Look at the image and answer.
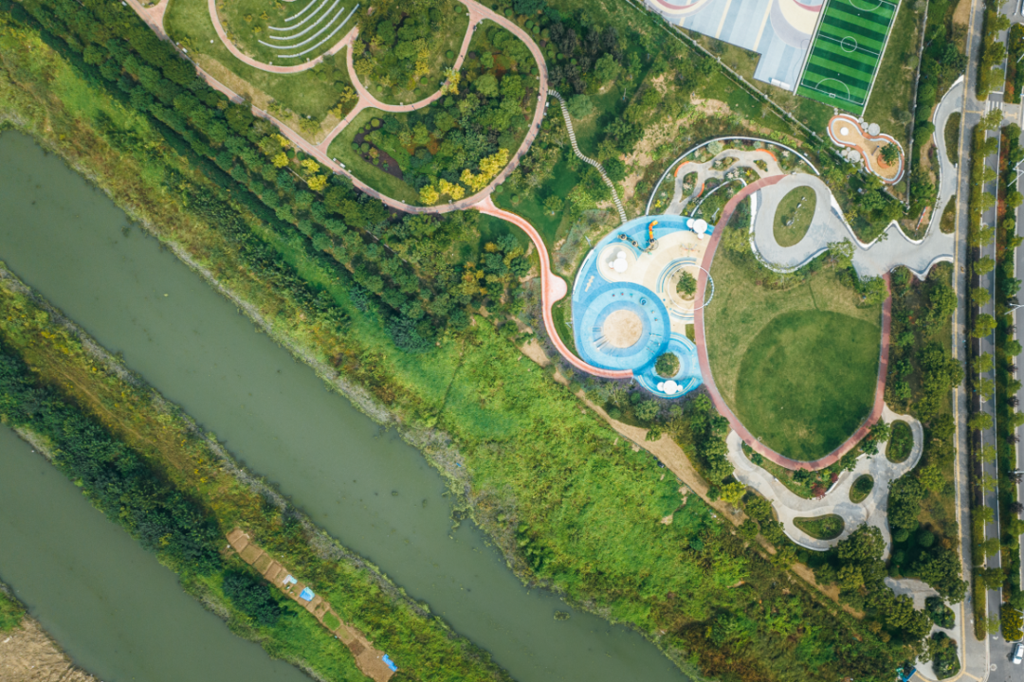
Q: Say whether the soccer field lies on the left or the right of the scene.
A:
right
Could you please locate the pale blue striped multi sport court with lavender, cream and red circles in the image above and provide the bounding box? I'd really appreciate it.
[646,0,826,91]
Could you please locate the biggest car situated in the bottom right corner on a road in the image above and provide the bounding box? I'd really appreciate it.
[1010,643,1023,664]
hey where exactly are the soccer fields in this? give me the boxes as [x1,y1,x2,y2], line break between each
[792,0,900,118]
